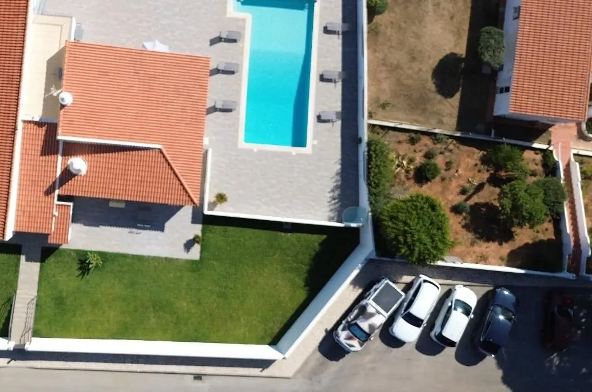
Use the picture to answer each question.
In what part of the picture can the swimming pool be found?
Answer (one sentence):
Look in the top portion of the view to spot the swimming pool.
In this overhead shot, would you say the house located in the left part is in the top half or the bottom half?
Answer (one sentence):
Seen from above, the house located in the left part lies in the top half of the view.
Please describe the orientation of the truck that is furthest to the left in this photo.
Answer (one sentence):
The truck that is furthest to the left has been laid out on a diagonal relative to the frame.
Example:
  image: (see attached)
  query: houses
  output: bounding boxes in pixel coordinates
[488,0,592,126]
[0,0,212,245]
